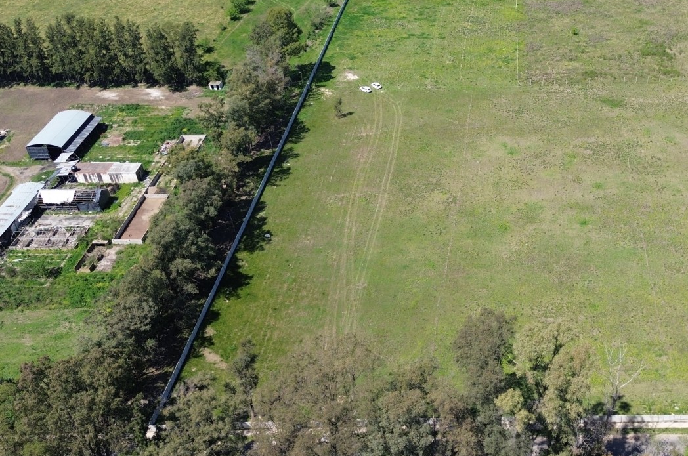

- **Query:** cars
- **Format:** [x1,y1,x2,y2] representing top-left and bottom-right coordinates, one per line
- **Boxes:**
[359,83,373,92]
[371,80,382,89]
